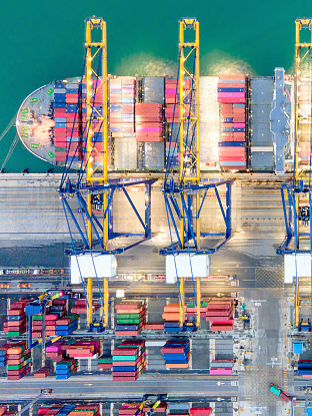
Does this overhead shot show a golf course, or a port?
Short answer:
port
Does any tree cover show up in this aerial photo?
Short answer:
No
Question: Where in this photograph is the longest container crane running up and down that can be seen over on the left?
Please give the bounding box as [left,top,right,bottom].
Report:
[54,18,164,332]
